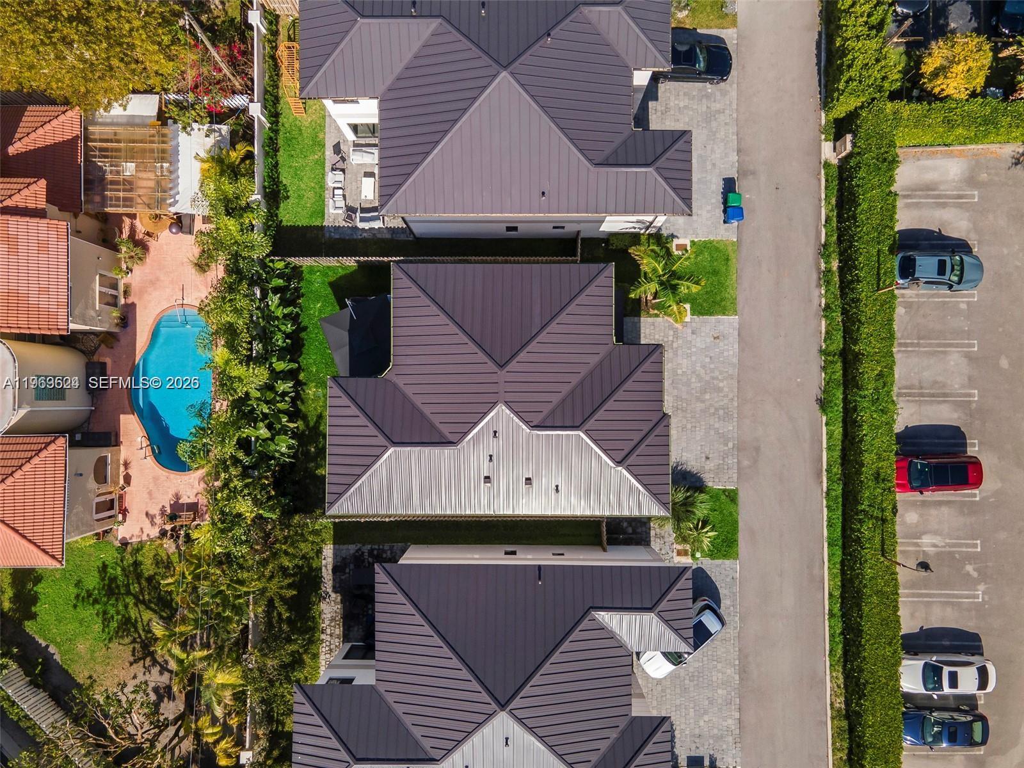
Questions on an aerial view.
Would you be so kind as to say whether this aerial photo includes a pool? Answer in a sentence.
Yes, there's a pool down there.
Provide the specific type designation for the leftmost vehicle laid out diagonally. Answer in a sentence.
Specifically, the leftmost vehicle laid out diagonally is a car.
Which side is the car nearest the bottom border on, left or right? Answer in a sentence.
The car nearest the bottom border appears in the right half of the scene.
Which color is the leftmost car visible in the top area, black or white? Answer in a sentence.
The leftmost car visible in the top area is black.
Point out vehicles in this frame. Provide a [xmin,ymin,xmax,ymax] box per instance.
[642,597,720,679]
[989,0,1024,36]
[648,40,731,87]
[899,651,993,698]
[896,452,981,497]
[895,249,982,293]
[900,704,988,752]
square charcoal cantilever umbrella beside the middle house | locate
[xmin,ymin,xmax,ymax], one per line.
[320,298,389,375]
